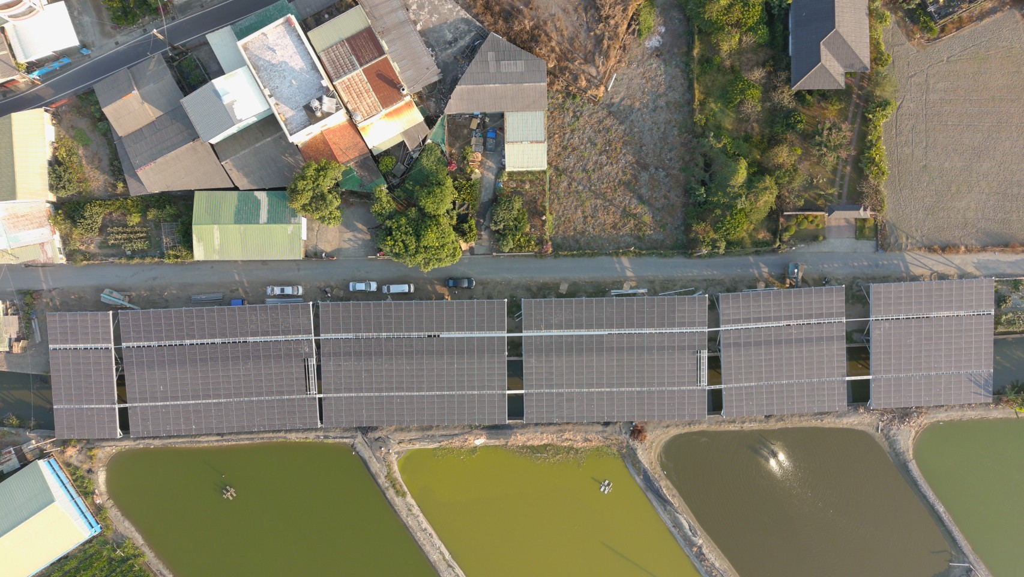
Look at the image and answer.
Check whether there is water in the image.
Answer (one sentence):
Yes, there is water in the image.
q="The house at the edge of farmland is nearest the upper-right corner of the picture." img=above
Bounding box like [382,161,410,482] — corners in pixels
[785,0,871,90]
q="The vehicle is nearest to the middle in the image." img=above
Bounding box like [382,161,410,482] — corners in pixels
[446,277,475,290]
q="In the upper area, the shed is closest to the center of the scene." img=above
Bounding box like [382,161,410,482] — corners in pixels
[505,111,547,174]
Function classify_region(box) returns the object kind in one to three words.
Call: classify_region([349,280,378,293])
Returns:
vehicle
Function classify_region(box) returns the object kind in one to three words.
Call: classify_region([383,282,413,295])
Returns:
vehicle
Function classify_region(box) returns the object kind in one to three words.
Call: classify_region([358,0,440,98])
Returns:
house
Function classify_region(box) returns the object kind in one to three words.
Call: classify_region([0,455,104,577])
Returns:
building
